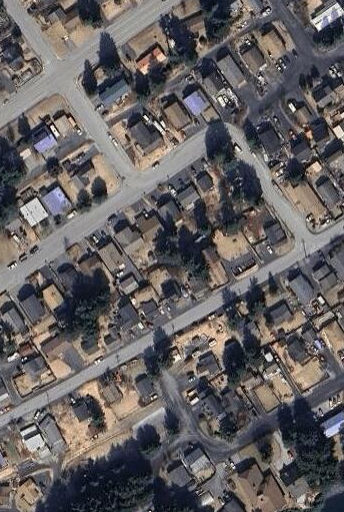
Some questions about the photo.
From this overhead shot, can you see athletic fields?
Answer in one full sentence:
No, no athletic field can be seen from above.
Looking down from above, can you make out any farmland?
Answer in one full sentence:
No, there is no farmland in the image.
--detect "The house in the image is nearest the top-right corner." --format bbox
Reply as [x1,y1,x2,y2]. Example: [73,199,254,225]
[308,0,344,33]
